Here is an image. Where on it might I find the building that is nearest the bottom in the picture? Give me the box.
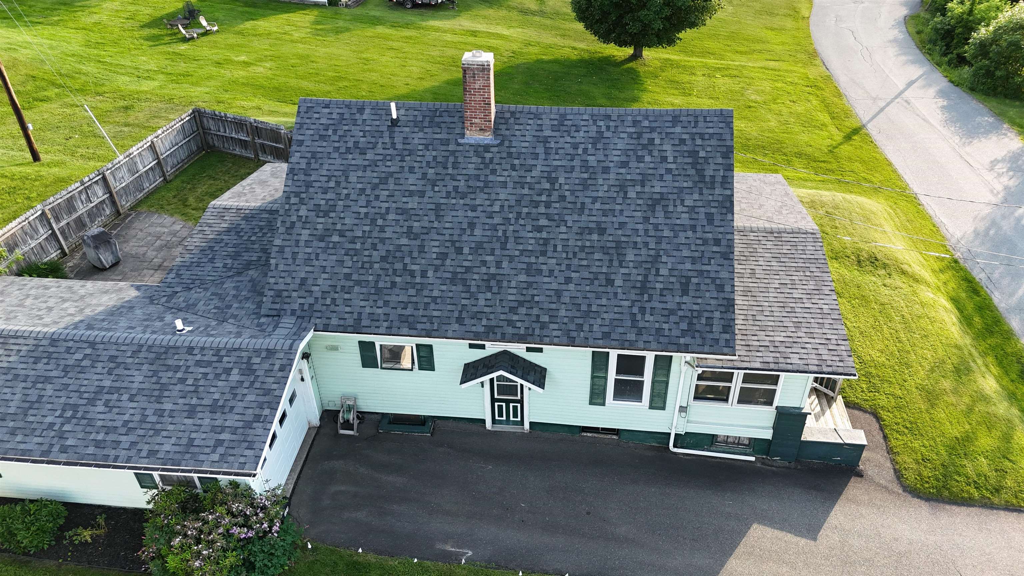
[0,46,869,513]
